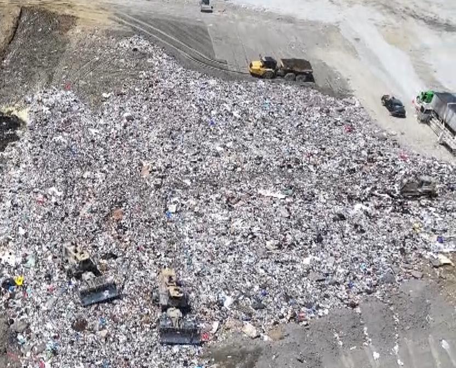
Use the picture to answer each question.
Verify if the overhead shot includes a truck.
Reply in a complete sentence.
Yes, the photo shows a truck.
